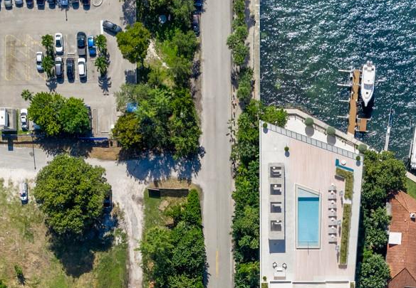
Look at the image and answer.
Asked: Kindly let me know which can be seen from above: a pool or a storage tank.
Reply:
pool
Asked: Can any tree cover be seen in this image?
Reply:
Yes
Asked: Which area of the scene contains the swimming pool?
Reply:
bottom right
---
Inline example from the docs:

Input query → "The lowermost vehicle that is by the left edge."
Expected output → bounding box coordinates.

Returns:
[18,179,30,203]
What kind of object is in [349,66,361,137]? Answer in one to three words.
pier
